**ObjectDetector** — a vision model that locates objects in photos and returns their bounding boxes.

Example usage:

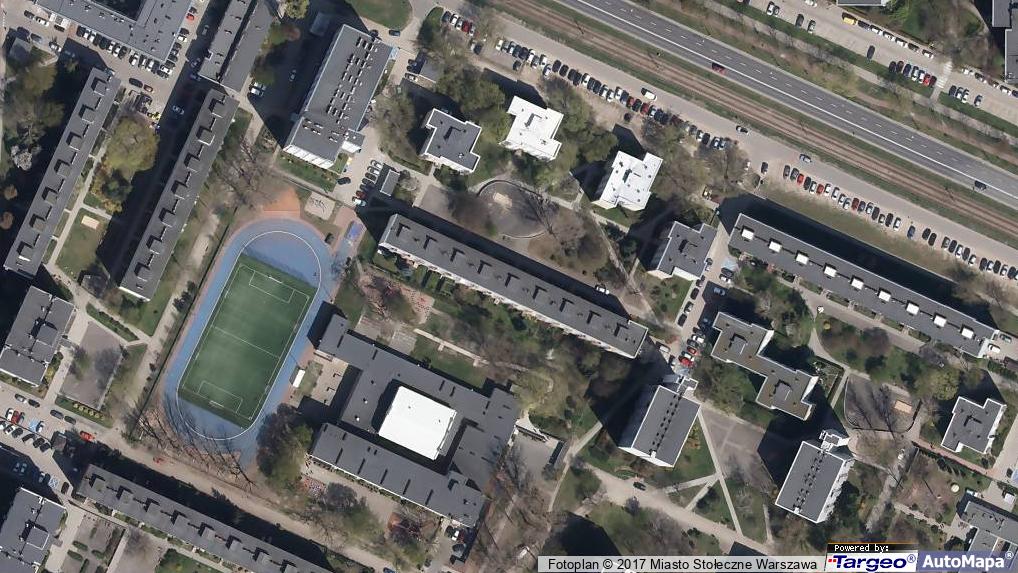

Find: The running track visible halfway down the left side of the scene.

[154,213,342,472]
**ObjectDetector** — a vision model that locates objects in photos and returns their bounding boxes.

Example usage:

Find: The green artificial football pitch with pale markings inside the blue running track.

[177,254,317,429]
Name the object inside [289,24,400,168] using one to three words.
building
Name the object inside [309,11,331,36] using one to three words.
shed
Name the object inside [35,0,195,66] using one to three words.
building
